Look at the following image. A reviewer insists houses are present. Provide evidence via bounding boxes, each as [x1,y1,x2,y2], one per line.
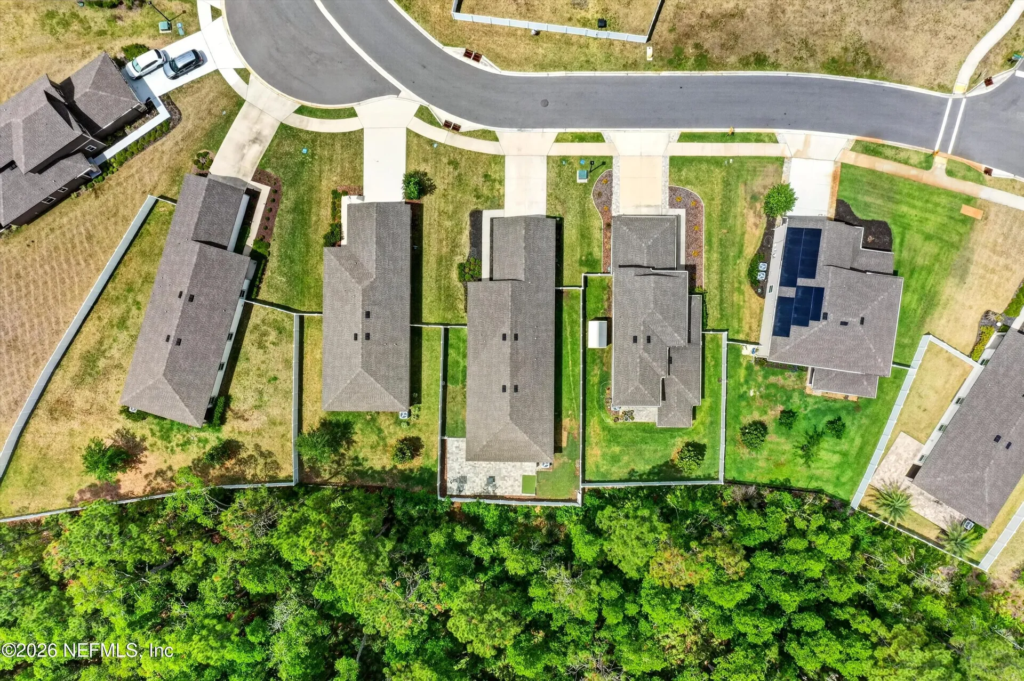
[903,326,1024,529]
[0,51,147,231]
[120,173,257,428]
[466,216,555,463]
[757,218,904,399]
[611,216,702,428]
[321,202,411,411]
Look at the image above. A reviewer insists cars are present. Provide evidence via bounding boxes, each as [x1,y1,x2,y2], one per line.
[164,48,205,81]
[126,47,169,81]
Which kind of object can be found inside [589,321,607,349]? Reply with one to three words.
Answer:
shed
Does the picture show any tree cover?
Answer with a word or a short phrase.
Yes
